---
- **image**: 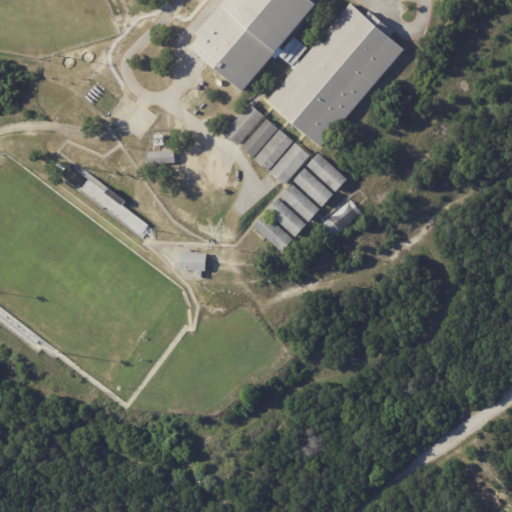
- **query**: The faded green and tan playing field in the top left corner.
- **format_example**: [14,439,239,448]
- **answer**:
[0,0,121,55]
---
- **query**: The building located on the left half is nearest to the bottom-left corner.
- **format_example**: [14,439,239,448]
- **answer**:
[178,253,206,278]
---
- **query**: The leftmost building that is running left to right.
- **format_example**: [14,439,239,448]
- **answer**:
[147,150,174,164]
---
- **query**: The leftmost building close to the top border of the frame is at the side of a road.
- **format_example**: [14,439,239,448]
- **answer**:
[190,0,314,88]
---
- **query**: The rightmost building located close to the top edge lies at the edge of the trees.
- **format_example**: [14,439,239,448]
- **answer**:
[268,3,404,145]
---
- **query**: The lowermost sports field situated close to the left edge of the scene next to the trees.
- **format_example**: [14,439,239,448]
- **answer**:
[0,153,186,400]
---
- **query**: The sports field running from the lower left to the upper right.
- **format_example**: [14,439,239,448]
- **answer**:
[131,308,283,409]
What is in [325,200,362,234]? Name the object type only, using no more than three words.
house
